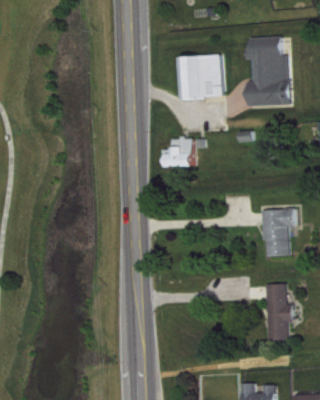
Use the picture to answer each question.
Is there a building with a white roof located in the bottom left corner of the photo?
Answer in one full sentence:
No, no building with a white roof can be made out in the bottom left corner of the photo.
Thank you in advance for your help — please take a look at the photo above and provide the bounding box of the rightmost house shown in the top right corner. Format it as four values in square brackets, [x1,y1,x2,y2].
[244,36,293,106]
